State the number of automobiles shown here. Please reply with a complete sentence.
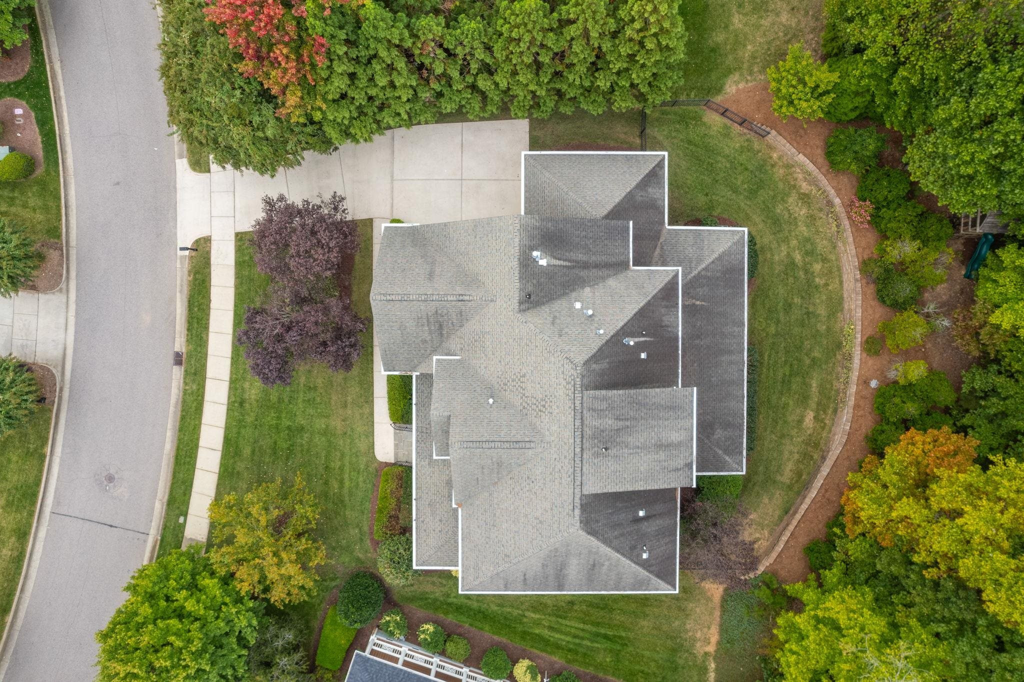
The photo contains no automobiles.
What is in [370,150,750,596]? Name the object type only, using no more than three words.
house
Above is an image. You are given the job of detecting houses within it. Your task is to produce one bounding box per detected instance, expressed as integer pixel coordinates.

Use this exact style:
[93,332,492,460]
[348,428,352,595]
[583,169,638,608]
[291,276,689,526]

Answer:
[344,629,518,682]
[370,150,750,596]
